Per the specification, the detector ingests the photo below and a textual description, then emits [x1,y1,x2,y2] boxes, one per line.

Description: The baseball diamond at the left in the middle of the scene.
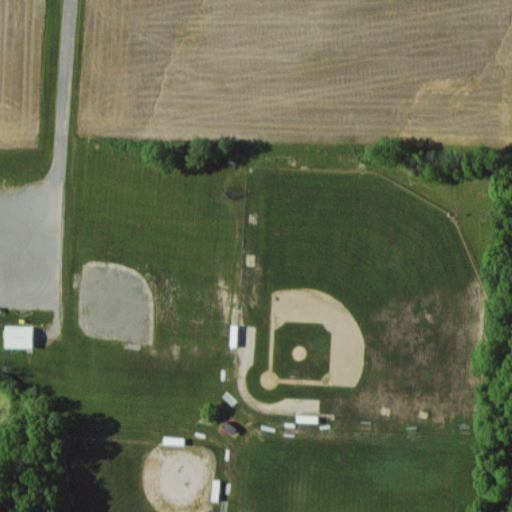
[79,262,154,350]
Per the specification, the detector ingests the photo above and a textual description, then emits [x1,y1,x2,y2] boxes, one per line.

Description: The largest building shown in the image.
[4,326,33,353]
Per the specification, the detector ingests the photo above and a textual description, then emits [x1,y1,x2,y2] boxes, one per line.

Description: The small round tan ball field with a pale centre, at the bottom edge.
[143,444,216,512]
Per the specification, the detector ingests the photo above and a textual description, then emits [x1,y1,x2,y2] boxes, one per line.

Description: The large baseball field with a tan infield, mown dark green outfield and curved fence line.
[238,168,486,421]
